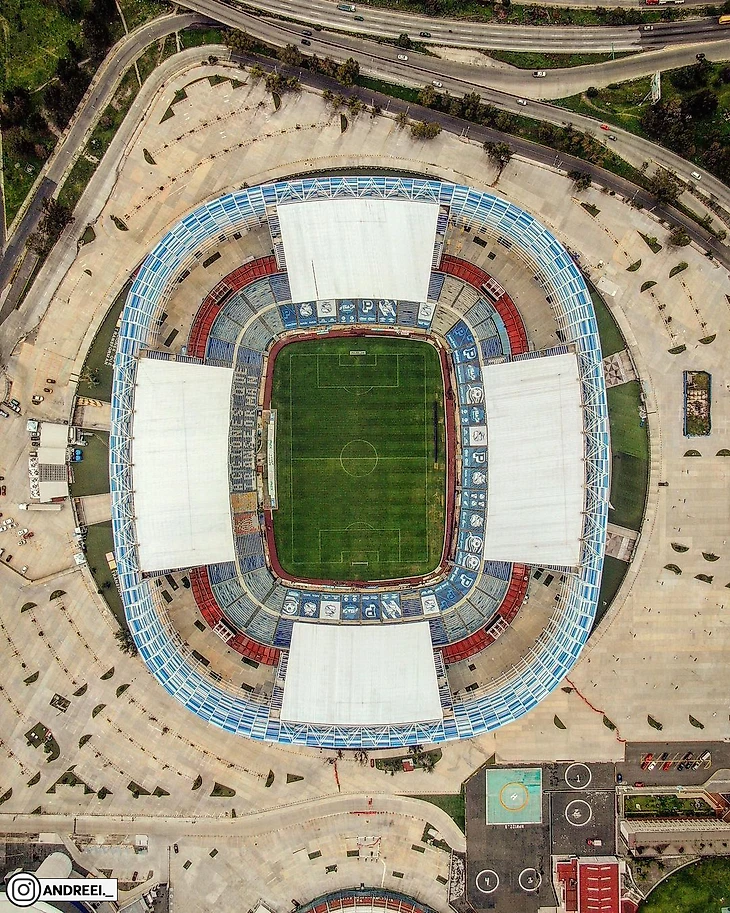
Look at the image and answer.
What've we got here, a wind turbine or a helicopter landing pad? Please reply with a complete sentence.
The one in the frame is a helicopter landing pad.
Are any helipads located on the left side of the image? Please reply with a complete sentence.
No, I see no helipad on the left side of the image.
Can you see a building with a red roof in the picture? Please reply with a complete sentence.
Yes, the image includes a building with a red roof.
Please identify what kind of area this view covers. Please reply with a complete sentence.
This image shows a sports ground.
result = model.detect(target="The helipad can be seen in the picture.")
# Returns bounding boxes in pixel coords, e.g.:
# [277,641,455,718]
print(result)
[487,768,542,828]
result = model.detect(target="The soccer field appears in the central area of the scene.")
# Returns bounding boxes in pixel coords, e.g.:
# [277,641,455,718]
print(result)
[263,329,456,588]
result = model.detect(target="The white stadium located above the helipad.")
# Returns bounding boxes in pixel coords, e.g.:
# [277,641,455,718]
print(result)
[109,177,610,749]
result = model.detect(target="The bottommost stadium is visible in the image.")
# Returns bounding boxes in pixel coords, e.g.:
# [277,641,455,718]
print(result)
[292,878,430,913]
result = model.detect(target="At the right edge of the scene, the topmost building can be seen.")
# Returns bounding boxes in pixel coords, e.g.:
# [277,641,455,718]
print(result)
[620,812,730,858]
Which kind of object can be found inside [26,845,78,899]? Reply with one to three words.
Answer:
building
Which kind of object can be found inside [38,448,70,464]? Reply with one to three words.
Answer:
shed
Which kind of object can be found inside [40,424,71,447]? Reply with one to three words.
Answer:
shed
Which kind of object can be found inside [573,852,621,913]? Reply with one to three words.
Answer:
building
